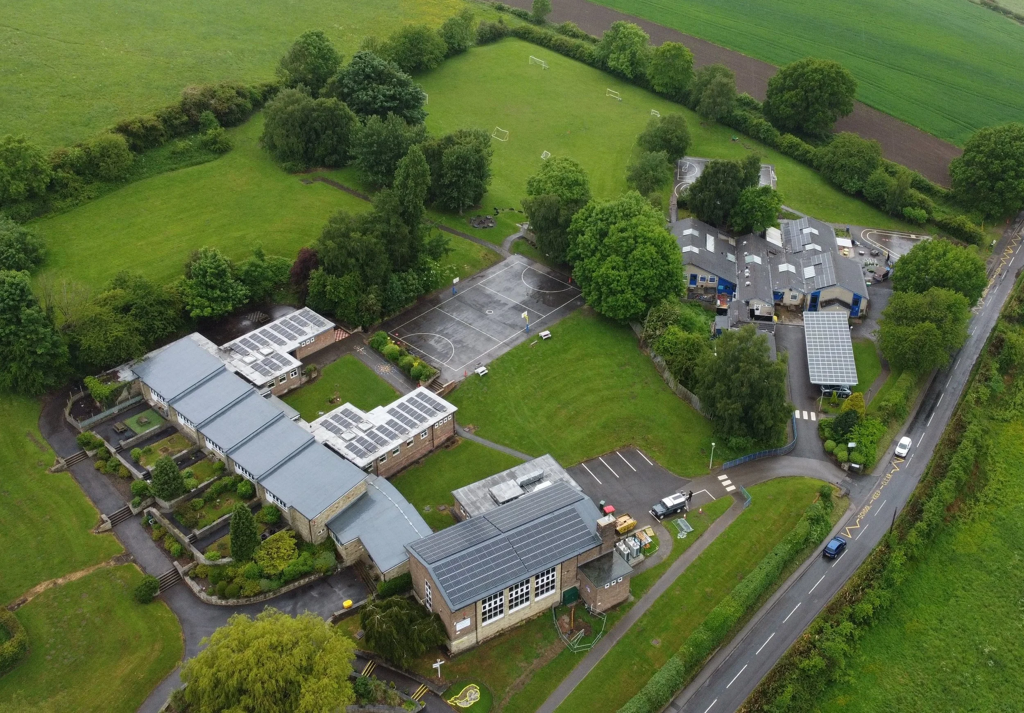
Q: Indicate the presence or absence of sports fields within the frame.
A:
Yes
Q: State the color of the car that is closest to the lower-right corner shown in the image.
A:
blue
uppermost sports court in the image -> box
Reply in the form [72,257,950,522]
[670,155,715,221]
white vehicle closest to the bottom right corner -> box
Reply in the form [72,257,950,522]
[893,432,915,457]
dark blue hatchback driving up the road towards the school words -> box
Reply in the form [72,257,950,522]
[822,533,847,558]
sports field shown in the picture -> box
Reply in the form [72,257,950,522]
[419,38,907,227]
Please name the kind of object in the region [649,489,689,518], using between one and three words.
truck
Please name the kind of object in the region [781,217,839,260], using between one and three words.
building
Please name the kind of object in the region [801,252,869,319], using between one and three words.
building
